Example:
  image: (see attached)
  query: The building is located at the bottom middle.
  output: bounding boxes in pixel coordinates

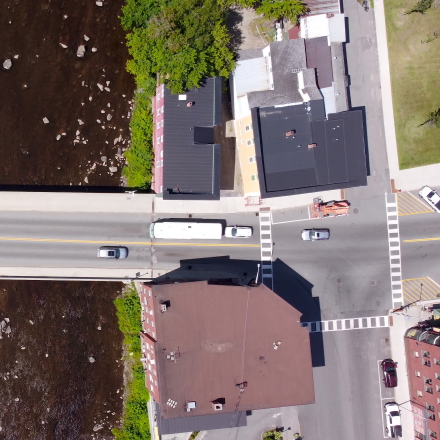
[139,278,315,434]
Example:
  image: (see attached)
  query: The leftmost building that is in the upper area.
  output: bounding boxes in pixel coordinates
[152,65,221,202]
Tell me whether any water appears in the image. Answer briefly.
Yes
